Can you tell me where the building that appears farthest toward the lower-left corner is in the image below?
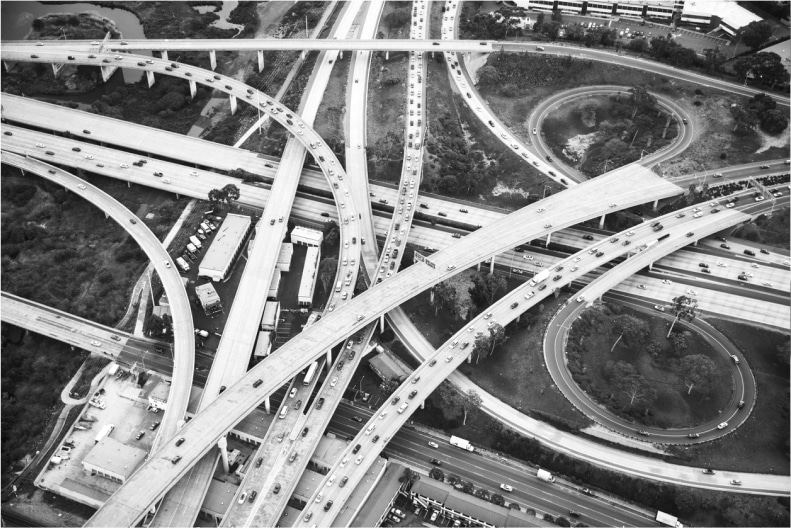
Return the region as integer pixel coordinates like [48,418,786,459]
[81,435,148,482]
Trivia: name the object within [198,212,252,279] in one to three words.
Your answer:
building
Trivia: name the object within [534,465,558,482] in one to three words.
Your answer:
vehicle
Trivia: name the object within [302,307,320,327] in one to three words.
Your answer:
vehicle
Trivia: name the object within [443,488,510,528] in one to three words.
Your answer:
house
